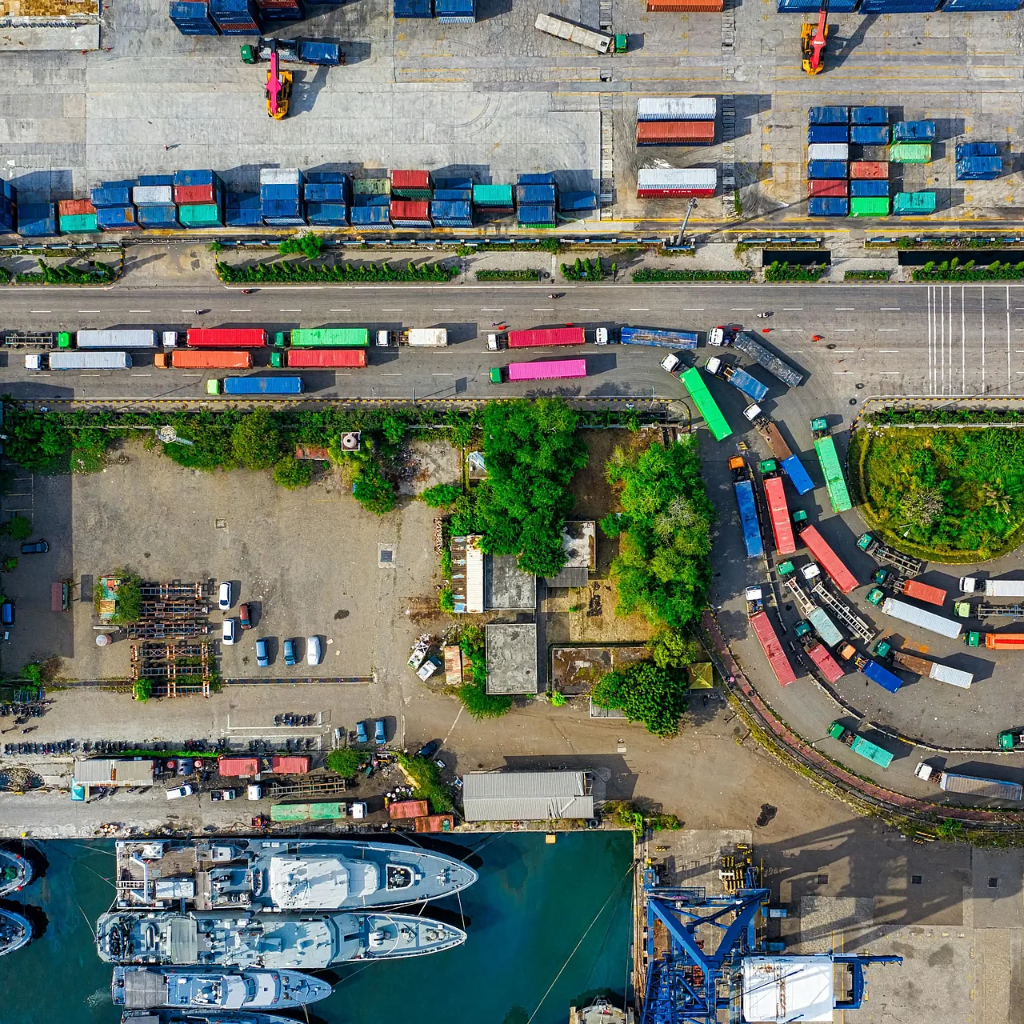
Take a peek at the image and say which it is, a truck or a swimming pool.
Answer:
truck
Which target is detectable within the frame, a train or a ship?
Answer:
ship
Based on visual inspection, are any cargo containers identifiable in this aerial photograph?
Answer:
Yes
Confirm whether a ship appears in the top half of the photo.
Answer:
No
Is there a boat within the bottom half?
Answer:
Yes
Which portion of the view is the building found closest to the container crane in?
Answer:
bottom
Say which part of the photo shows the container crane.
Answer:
bottom right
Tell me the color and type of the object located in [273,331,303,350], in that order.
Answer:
green vehicle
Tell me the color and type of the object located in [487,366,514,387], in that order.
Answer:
green truck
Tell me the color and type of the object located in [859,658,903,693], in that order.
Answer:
blue shipping container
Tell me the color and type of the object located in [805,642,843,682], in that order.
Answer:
red shipping container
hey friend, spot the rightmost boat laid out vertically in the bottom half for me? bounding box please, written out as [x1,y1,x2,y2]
[250,866,264,897]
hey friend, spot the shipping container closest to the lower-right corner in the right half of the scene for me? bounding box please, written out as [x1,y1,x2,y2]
[938,771,1022,801]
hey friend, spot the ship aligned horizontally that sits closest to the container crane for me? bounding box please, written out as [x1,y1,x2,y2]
[569,997,634,1024]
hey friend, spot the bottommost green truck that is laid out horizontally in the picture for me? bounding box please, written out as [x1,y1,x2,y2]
[271,800,368,822]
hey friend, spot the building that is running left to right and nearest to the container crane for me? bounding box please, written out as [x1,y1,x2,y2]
[463,769,594,822]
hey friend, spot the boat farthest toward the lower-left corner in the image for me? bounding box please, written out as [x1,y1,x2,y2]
[0,903,38,956]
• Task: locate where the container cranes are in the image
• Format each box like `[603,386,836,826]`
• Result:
[640,859,904,1024]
